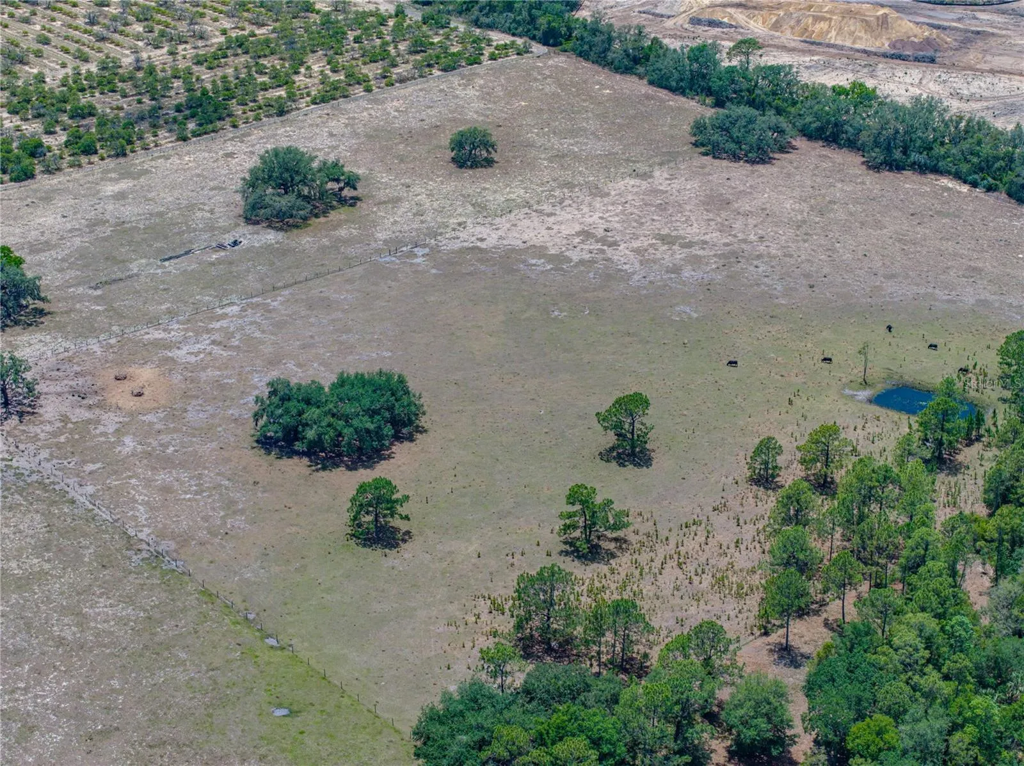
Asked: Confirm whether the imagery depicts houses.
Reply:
No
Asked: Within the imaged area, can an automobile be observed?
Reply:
No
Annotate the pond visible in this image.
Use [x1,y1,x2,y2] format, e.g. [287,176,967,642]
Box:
[873,387,985,425]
